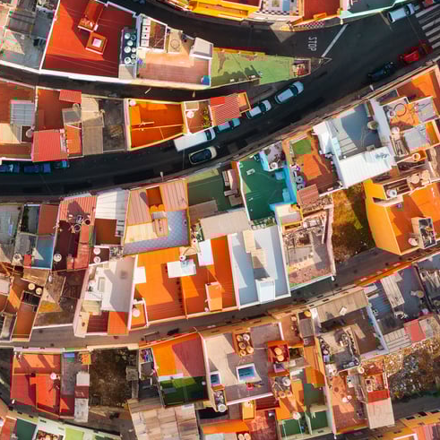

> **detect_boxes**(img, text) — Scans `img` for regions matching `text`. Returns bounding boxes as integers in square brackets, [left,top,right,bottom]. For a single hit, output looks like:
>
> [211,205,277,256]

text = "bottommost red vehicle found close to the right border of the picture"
[401,45,428,64]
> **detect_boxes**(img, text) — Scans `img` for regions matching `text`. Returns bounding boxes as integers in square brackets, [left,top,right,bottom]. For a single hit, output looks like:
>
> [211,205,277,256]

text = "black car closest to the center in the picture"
[187,147,217,165]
